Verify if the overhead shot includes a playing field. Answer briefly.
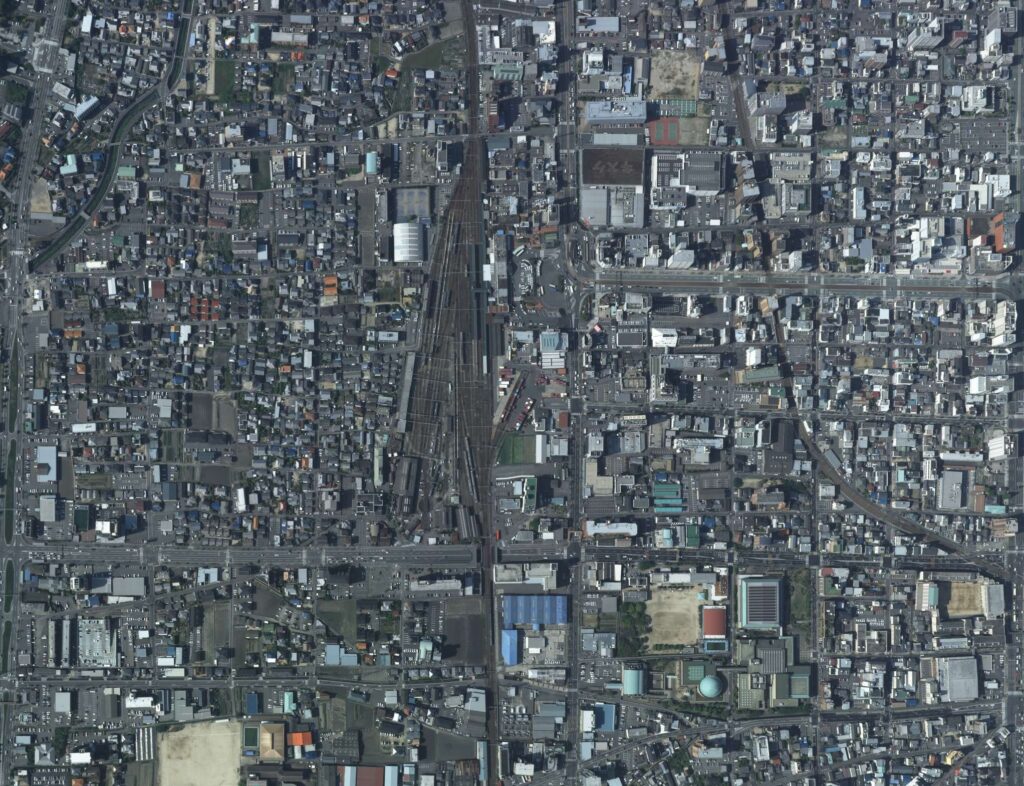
Yes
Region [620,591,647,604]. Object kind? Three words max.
building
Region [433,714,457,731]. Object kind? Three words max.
house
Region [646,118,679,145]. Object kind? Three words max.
tennis court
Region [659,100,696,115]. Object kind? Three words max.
sports court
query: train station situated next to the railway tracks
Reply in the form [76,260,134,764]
[461,165,509,397]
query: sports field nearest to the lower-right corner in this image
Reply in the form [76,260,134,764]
[939,584,977,618]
